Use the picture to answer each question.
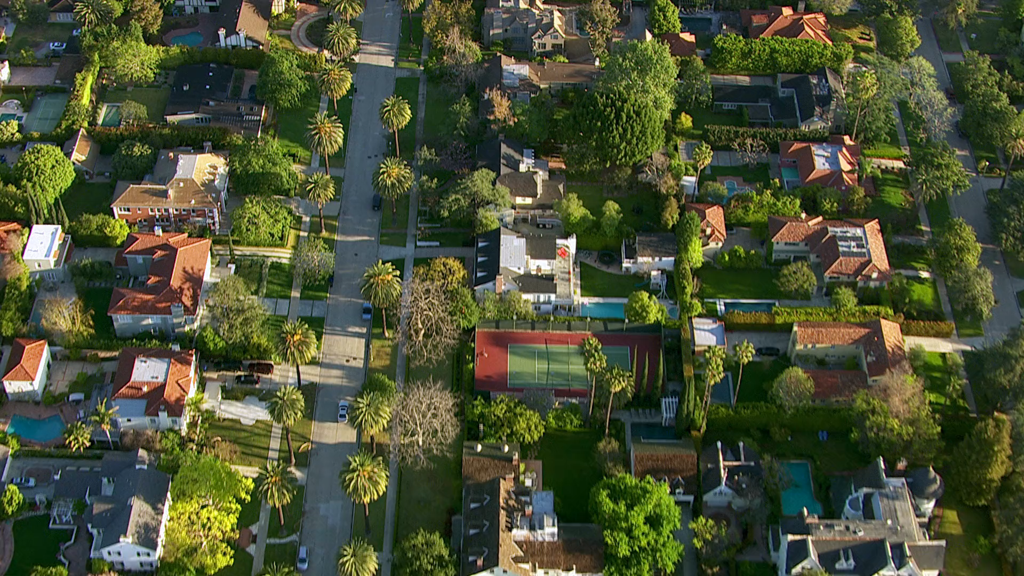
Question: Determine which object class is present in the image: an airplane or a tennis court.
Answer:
tennis court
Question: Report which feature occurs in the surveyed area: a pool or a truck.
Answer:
pool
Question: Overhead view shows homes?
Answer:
Yes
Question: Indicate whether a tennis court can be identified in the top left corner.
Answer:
Yes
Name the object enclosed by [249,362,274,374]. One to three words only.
vehicle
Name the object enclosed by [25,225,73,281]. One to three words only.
house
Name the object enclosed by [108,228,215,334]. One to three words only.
house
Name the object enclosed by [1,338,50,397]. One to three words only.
building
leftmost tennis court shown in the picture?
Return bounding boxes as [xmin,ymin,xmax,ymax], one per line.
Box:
[20,88,79,136]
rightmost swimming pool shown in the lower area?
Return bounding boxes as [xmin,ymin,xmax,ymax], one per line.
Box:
[779,461,824,517]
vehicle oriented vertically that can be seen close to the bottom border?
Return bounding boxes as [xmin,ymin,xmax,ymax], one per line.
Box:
[297,547,309,571]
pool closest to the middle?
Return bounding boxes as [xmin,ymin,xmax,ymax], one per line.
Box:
[578,299,629,318]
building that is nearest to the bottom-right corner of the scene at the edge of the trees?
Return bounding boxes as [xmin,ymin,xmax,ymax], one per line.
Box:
[763,448,947,576]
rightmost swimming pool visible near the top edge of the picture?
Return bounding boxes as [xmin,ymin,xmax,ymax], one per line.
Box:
[677,14,715,32]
